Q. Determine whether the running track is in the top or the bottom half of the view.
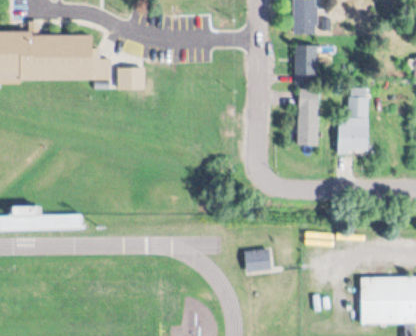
bottom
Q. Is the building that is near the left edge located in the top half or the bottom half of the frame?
top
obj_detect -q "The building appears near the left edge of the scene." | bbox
[0,20,111,90]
